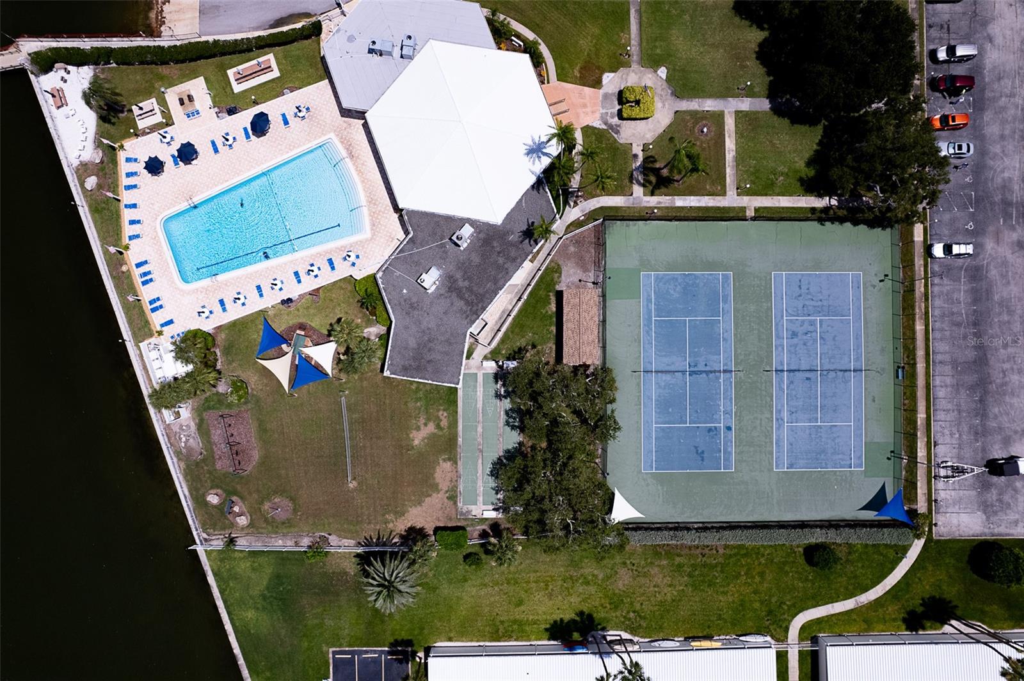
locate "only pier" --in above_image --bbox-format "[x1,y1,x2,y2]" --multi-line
[0,47,29,71]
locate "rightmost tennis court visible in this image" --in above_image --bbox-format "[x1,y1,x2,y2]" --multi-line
[764,272,877,471]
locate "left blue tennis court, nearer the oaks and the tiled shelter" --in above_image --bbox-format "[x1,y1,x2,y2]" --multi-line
[632,272,745,473]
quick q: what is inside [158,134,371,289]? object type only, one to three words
swimming pool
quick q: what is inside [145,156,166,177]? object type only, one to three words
umbrella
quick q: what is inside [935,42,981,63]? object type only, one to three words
car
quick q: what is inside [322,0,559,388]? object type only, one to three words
building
